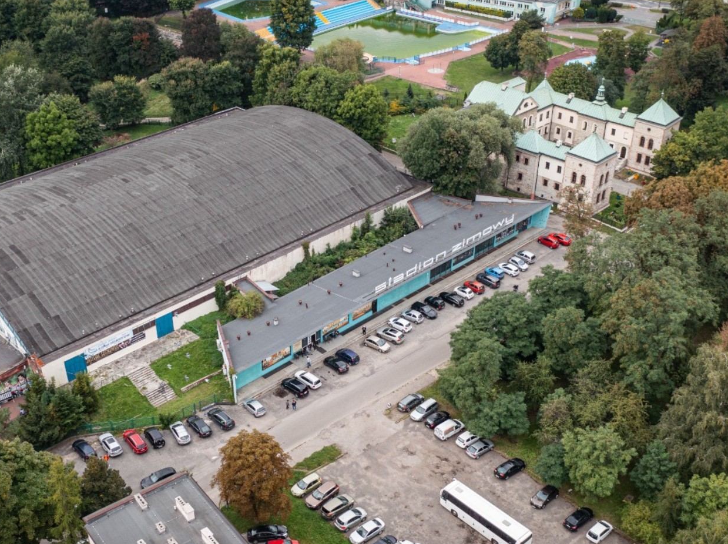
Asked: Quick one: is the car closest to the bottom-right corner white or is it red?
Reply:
white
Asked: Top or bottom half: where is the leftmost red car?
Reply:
bottom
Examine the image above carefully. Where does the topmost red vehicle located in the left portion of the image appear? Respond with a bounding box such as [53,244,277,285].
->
[122,429,150,456]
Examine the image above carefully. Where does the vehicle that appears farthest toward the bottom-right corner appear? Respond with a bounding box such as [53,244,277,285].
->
[585,521,613,544]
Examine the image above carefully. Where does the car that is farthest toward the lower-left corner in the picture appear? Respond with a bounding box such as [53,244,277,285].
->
[72,437,97,463]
